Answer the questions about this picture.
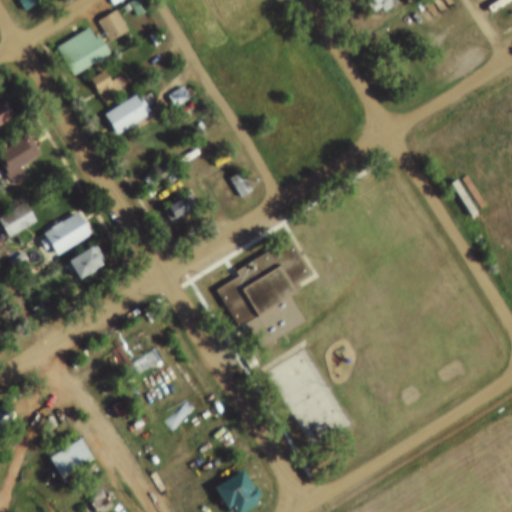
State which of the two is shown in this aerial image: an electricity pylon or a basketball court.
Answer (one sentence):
Of the two, only a basketball court appears.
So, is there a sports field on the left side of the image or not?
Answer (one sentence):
No, no sports field appears on the left side of the image.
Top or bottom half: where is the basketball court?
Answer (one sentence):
The basketball court sits in the bottom half of the picture.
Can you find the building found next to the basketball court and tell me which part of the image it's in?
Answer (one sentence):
The building found next to the basketball court is located in the center region of the scene.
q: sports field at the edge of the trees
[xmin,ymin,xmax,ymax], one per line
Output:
[290,163,502,458]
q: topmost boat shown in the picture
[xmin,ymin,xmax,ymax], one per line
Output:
[118,332,132,358]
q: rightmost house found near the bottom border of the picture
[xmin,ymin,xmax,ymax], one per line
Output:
[219,470,261,512]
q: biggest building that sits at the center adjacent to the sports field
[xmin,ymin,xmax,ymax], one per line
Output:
[216,242,310,345]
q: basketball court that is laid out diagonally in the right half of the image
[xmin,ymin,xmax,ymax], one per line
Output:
[270,351,352,442]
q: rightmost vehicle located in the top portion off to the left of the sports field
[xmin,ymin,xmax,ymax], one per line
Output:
[214,155,232,167]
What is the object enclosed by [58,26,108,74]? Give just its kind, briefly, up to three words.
house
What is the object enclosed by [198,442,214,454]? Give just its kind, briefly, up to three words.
vehicle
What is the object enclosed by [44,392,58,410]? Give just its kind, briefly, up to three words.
vehicle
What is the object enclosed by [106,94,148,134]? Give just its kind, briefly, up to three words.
house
